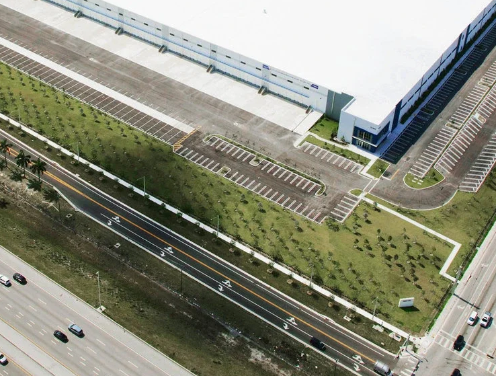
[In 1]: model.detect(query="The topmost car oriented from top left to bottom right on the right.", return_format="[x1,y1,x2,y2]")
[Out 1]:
[308,336,327,351]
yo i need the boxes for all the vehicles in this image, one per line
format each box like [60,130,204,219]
[451,368,461,376]
[479,310,493,327]
[67,325,84,339]
[308,336,327,351]
[369,358,393,376]
[465,310,478,326]
[0,275,12,288]
[51,330,68,345]
[0,353,9,365]
[12,274,28,286]
[453,334,466,351]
